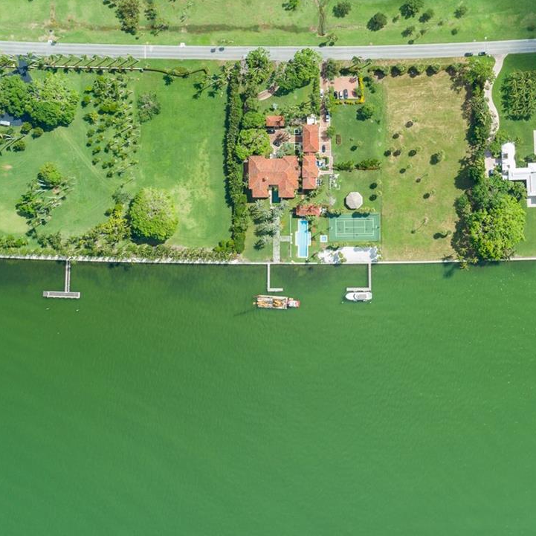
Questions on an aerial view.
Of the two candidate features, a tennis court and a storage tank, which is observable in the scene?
tennis court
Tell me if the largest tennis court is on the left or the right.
right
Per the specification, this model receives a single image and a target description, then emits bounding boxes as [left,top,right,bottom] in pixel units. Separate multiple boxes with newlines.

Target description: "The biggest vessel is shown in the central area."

[250,296,287,309]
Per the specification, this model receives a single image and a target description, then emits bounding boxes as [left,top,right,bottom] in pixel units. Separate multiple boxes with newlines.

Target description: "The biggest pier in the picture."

[43,262,79,299]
